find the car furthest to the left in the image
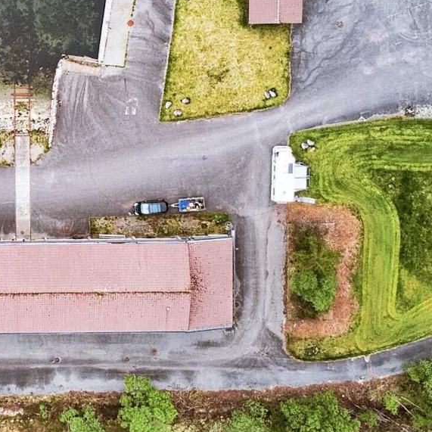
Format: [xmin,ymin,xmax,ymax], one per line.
[132,199,166,217]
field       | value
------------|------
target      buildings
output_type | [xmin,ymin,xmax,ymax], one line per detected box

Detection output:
[244,0,303,25]
[0,235,235,337]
